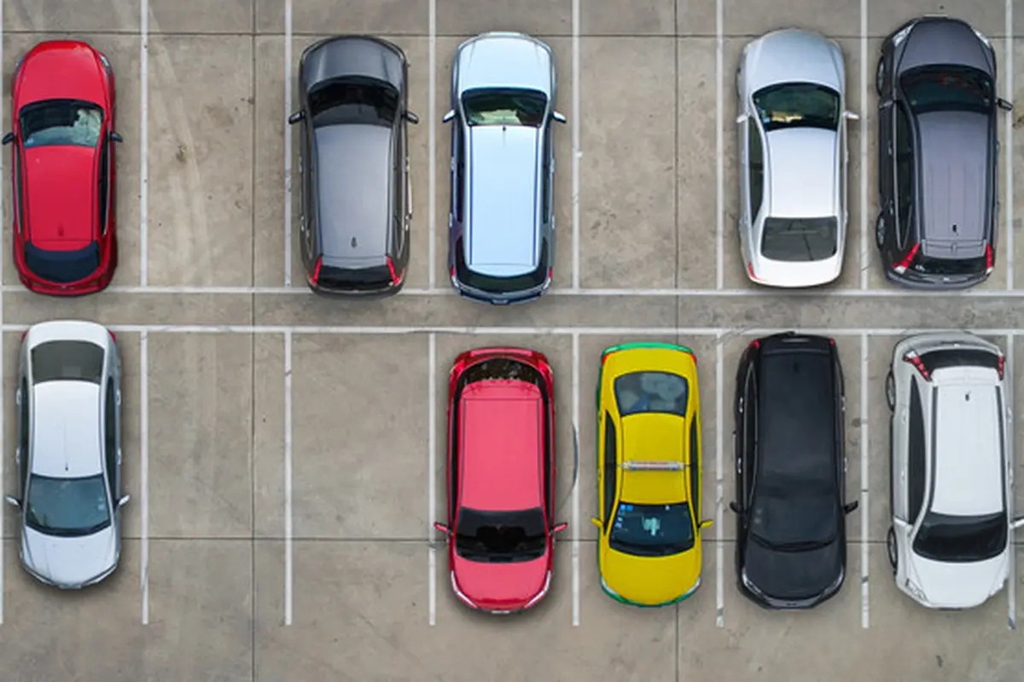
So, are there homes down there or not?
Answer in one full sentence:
No, the photo shows no home.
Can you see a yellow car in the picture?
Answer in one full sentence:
Yes, a yellow car can be made out from above.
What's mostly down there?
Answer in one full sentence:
The largest share of the image is taken up by paved ground.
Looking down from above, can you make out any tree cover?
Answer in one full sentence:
No, the picture contains no tree cover.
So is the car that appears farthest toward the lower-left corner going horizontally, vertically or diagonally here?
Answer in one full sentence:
What the image shows is the car that appears farthest toward the lower-left corner lying vertically.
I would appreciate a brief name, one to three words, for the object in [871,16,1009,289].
car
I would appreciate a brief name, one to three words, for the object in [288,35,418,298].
car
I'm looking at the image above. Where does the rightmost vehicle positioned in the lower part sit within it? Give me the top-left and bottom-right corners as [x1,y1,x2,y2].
[883,332,1019,609]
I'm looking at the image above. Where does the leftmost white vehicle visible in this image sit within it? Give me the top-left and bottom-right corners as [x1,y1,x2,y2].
[1,321,131,589]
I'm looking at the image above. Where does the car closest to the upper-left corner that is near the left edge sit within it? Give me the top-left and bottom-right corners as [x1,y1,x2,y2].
[0,41,124,296]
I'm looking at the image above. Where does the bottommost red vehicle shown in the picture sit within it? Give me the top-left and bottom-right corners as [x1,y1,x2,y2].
[437,347,568,615]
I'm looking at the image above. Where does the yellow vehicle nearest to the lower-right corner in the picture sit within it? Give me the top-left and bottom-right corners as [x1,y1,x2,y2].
[588,342,716,606]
